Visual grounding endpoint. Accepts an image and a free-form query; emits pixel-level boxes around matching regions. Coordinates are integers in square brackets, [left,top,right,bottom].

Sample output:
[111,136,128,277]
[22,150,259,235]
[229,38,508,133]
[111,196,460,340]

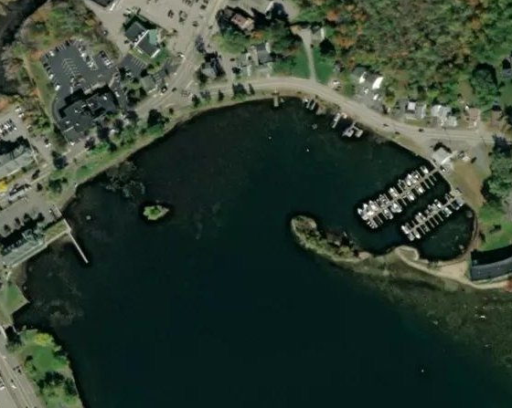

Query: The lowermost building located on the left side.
[0,222,54,265]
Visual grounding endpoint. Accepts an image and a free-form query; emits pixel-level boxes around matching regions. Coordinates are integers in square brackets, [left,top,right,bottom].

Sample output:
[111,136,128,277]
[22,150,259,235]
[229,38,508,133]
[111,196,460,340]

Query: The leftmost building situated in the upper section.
[0,138,39,180]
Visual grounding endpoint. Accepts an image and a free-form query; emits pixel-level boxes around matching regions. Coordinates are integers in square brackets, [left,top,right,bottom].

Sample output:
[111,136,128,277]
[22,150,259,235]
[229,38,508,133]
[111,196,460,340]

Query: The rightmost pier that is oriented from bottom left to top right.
[406,191,461,238]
